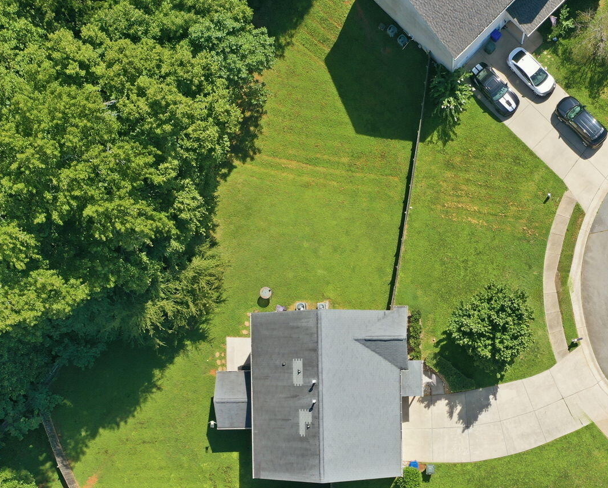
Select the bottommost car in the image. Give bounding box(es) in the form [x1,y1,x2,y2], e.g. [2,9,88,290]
[556,92,608,153]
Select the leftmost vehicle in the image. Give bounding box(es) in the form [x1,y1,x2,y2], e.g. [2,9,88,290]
[468,59,520,120]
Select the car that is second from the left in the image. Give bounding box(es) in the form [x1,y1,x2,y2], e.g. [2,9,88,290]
[508,42,558,100]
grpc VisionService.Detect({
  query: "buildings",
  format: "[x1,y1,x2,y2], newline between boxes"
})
[213,304,425,482]
[375,0,562,72]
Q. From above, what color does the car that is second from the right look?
white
